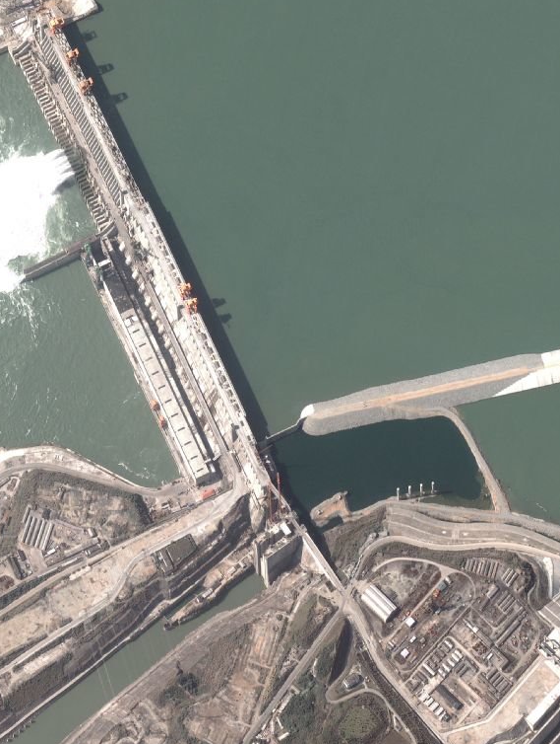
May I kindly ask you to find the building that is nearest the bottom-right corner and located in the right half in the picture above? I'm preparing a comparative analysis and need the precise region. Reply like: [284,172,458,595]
[527,684,560,724]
